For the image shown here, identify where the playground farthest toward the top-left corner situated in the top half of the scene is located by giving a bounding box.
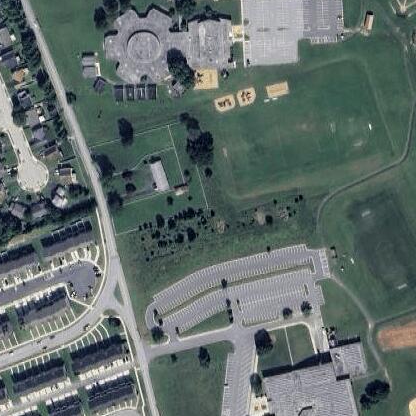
[194,67,218,89]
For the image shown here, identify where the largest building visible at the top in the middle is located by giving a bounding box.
[104,9,231,83]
